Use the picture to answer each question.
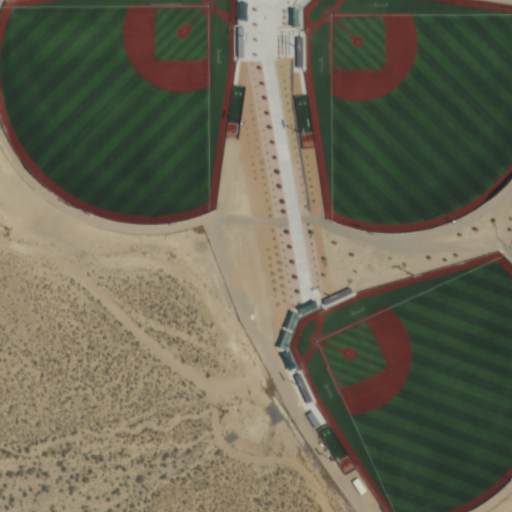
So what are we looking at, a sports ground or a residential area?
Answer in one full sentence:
It's a sports ground.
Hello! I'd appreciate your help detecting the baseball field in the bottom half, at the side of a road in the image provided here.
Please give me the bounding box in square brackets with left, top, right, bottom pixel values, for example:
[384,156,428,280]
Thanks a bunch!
[290,248,512,512]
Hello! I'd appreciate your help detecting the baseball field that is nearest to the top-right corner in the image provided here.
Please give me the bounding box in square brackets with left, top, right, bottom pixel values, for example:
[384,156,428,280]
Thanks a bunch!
[304,0,512,233]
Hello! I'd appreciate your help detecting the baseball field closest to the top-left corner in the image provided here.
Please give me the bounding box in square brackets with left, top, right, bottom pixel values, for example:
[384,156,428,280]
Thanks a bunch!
[0,0,236,224]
